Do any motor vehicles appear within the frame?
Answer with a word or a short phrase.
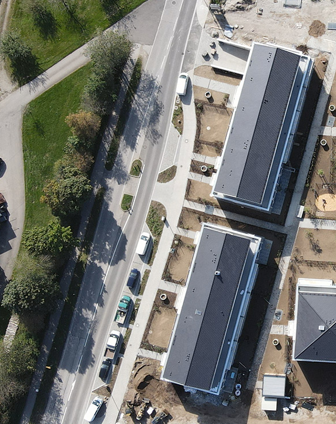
Yes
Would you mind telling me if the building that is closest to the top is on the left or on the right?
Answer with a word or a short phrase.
right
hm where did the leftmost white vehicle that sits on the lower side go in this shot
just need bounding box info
[84,396,103,422]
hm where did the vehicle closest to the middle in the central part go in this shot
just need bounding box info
[135,231,151,257]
